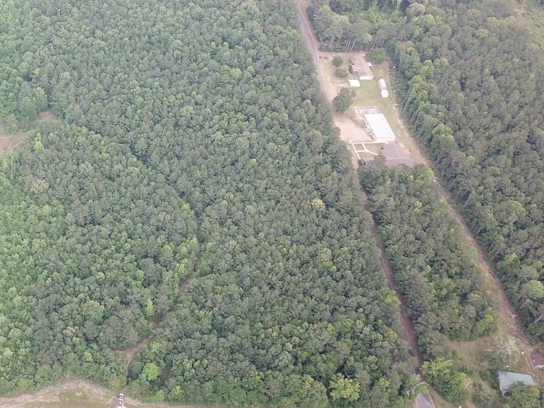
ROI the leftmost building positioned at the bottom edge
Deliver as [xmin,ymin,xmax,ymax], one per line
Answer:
[494,373,536,392]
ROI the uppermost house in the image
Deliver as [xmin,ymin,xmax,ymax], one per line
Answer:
[348,55,374,81]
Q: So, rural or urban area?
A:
rural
